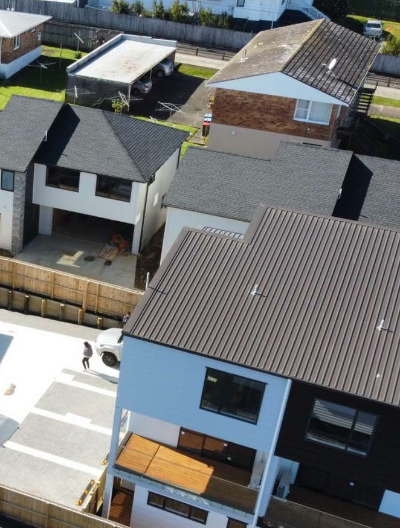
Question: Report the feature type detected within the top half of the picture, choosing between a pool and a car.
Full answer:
There is a car within the top half of the picture.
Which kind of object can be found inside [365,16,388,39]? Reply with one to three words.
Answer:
car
